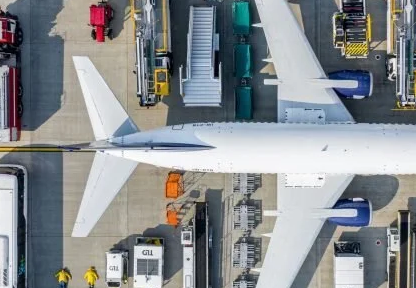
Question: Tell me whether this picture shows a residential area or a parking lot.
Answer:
parking lot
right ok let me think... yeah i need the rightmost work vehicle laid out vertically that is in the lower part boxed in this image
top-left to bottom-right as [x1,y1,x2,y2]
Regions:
[387,210,416,288]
